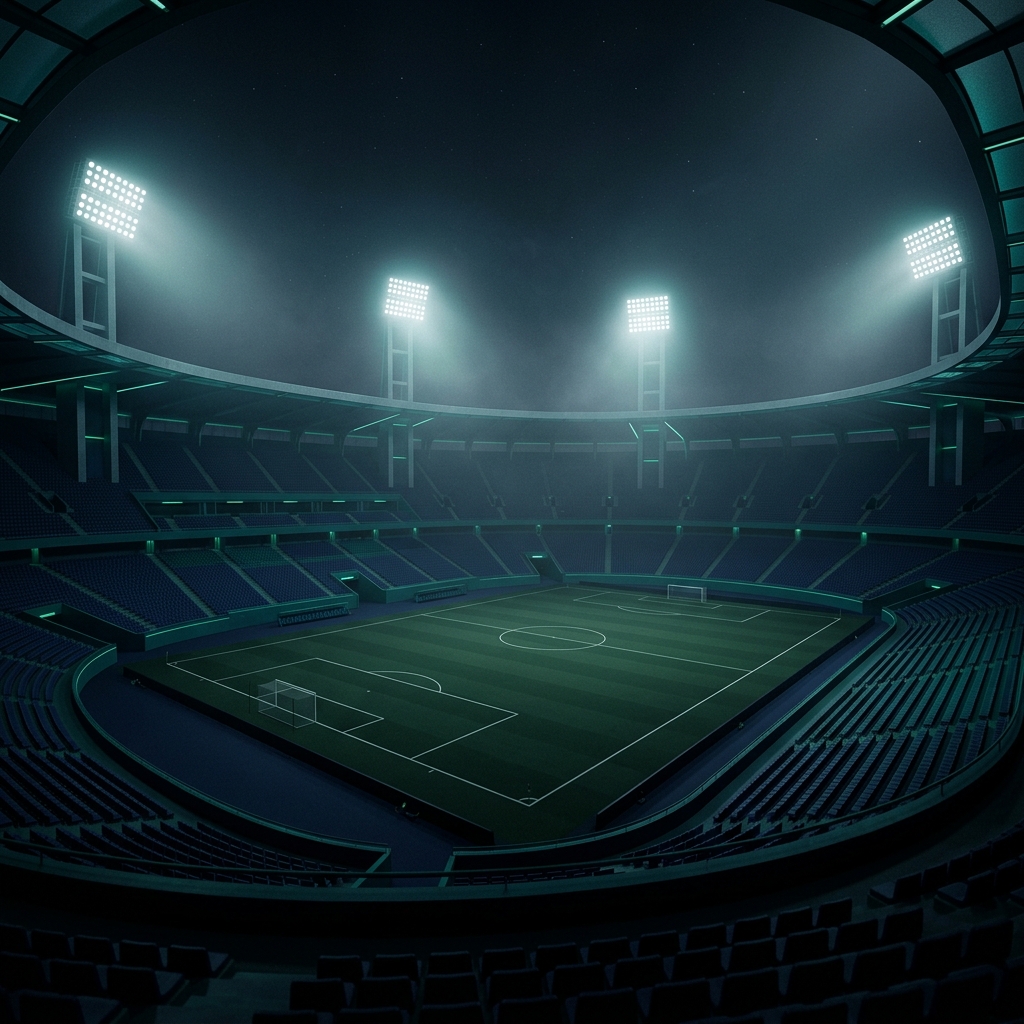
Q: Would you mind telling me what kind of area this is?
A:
sports ground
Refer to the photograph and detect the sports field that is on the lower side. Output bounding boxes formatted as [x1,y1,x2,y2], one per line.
[111,584,872,844]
